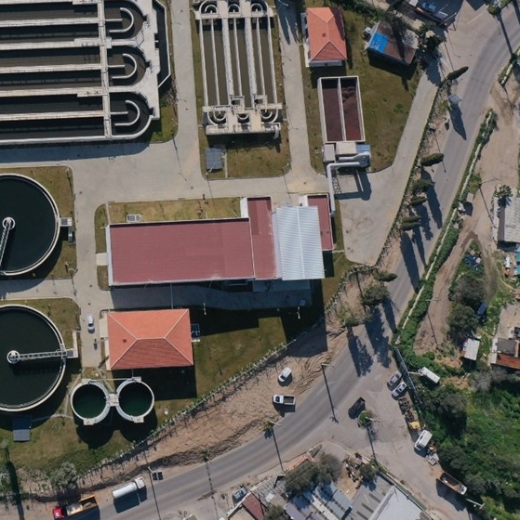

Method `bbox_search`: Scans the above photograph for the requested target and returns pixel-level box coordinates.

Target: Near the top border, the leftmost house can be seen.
[301,7,348,66]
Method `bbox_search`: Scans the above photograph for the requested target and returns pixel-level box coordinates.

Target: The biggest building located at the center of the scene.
[104,197,312,311]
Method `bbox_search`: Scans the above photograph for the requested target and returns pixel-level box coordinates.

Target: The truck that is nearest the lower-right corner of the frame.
[438,473,471,497]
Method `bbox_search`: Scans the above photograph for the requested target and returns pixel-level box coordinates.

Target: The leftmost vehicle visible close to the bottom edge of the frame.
[55,499,99,519]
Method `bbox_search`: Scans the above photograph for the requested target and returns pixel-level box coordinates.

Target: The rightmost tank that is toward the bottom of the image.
[116,376,155,423]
